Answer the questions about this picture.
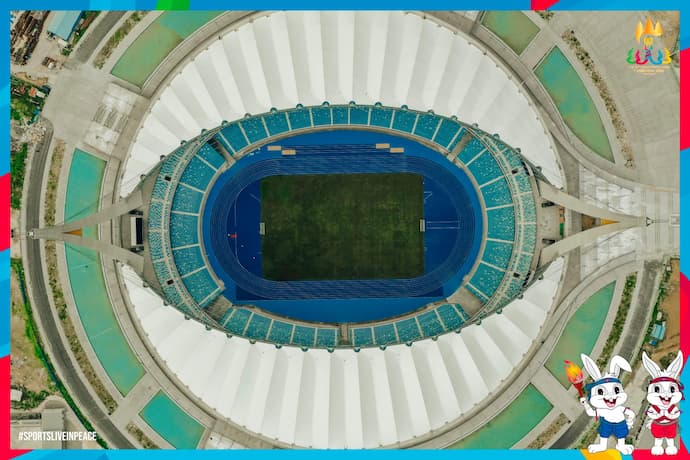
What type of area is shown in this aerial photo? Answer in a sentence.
What you see here is a sports ground.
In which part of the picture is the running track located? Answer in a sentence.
The running track appears toward the center of the photo.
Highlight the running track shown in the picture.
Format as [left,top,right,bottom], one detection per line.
[203,129,481,321]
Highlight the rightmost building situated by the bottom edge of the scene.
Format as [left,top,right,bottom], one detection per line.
[41,406,69,460]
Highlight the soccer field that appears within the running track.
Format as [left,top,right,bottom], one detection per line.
[261,174,424,280]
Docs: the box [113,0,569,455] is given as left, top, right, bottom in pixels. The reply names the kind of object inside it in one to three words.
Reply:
stadium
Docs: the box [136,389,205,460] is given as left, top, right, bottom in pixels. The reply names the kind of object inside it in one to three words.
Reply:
swimming pool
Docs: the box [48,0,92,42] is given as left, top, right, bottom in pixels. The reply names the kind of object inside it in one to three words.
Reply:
building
